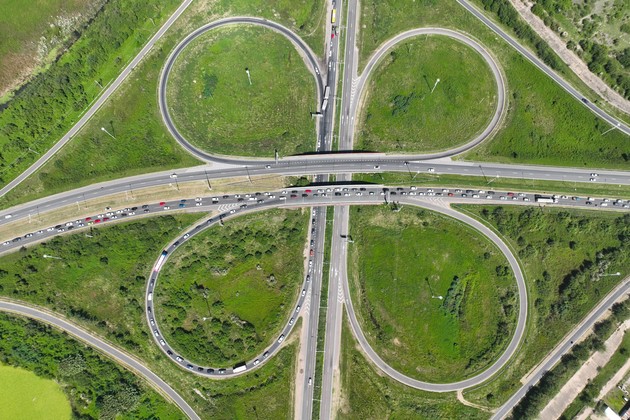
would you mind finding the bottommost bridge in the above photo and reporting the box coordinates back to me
[265,184,394,210]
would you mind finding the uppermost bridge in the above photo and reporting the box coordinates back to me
[272,151,393,176]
